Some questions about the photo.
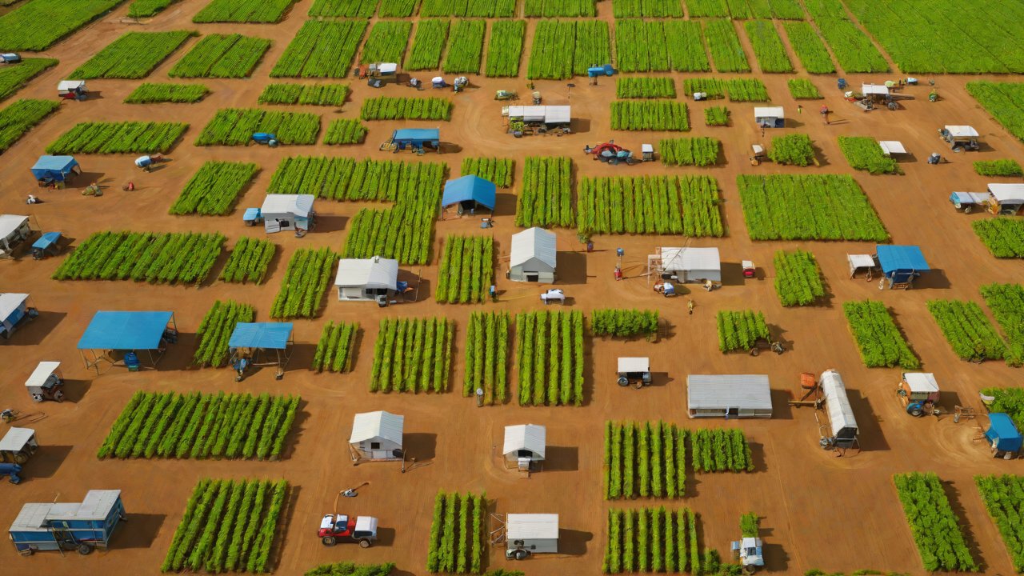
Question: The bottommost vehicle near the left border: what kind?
bus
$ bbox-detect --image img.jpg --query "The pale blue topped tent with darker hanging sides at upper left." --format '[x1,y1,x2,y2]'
[31,155,82,184]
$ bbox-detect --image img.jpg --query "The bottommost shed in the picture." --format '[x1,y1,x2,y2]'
[506,513,559,552]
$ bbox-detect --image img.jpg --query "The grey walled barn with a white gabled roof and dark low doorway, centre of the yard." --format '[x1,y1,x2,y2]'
[510,227,557,282]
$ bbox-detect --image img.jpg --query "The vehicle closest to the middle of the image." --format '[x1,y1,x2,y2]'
[538,288,567,307]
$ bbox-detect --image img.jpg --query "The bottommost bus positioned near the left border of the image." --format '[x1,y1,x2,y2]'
[7,489,139,561]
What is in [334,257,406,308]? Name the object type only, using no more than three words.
house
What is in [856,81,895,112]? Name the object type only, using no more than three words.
work vehicle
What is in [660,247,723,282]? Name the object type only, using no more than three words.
shed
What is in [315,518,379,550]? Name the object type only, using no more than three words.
car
